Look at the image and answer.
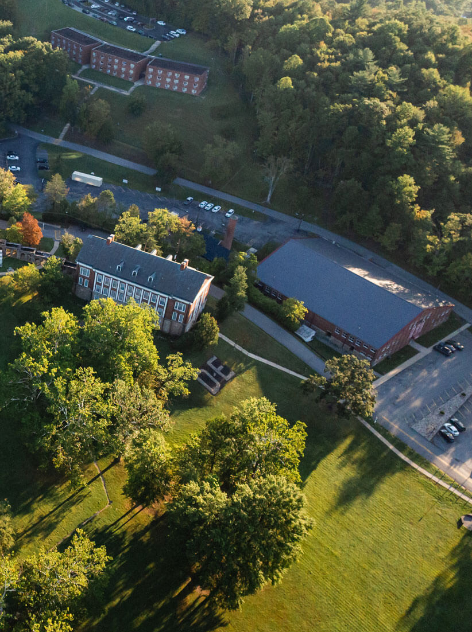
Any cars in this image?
Yes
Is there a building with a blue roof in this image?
Yes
